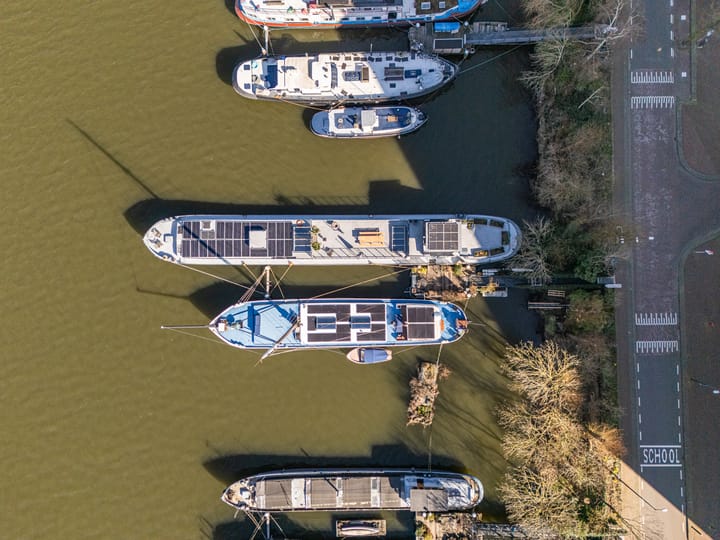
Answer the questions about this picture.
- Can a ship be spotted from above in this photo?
Yes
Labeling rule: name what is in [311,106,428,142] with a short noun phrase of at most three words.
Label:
boat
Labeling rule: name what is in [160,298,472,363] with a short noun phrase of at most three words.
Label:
ship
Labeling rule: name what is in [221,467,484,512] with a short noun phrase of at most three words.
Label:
boat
